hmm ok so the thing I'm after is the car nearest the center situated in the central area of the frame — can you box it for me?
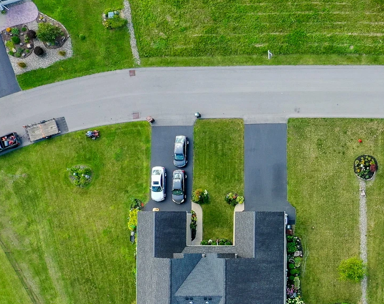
[171,133,189,167]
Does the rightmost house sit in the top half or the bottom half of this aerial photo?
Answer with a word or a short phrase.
bottom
